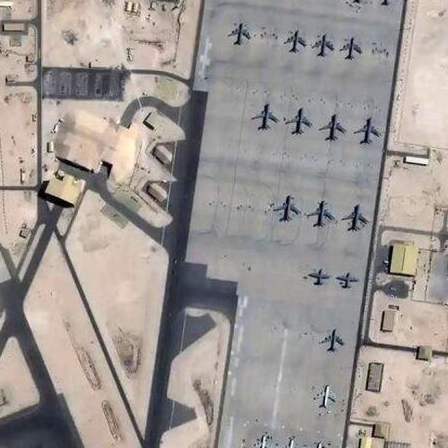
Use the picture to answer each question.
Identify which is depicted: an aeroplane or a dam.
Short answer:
aeroplane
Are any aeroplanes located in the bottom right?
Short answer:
Yes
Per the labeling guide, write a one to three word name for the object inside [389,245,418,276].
hangar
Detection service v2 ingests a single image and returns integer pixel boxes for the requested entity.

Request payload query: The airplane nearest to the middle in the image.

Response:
[274,195,299,222]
